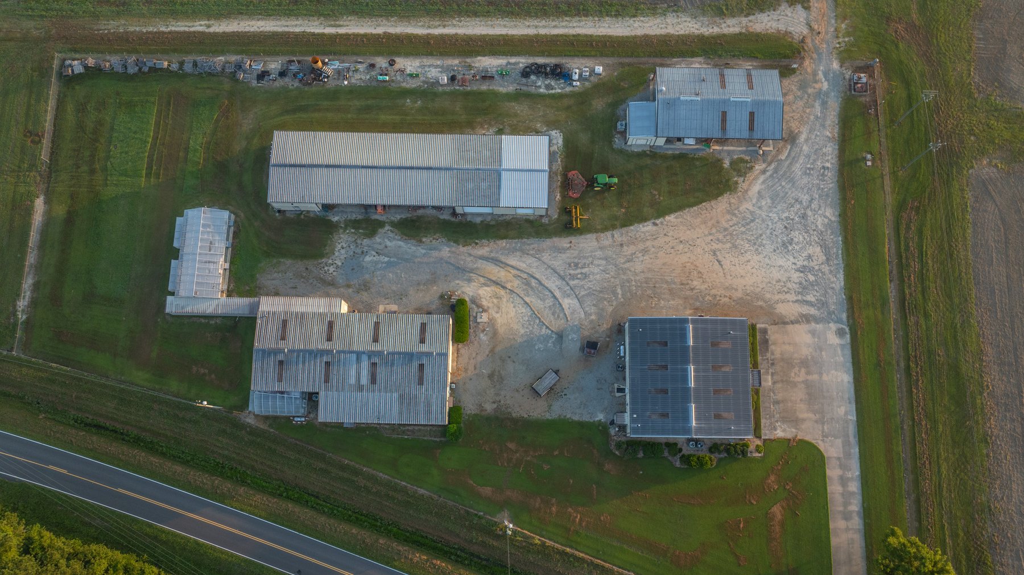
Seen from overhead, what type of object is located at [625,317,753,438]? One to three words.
building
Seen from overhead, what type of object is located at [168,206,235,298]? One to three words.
greenhouse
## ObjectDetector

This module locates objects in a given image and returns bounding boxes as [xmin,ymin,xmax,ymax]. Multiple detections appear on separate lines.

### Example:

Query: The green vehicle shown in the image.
[596,173,617,188]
